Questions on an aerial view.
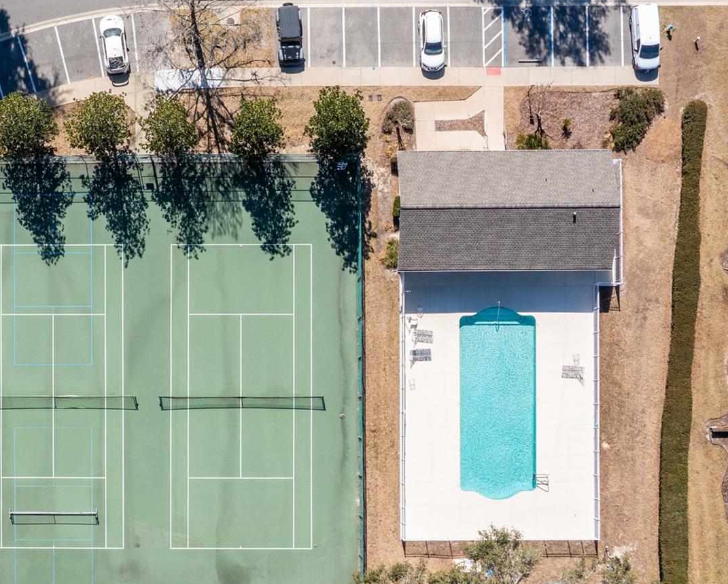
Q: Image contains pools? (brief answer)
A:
Yes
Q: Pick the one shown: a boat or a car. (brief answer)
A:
car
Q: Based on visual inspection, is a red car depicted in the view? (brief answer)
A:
No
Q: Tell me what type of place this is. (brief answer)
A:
sports ground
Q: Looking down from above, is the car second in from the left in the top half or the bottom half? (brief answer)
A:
top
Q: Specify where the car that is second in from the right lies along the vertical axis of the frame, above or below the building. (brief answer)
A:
above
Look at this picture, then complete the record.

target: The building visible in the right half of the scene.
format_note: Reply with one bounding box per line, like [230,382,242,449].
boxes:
[398,150,620,272]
